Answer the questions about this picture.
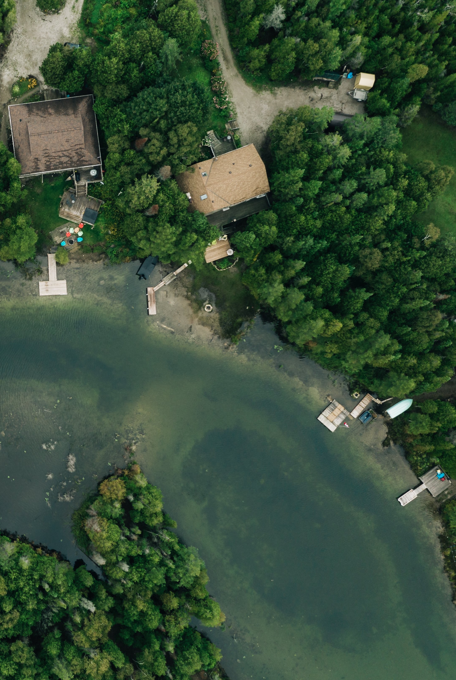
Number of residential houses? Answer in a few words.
2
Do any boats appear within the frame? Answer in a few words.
Yes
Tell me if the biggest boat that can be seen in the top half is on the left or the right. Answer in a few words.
left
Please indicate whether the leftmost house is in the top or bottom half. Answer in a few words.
top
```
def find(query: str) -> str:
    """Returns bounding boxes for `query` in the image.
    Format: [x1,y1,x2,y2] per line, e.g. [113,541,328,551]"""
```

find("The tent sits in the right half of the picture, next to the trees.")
[354,73,375,91]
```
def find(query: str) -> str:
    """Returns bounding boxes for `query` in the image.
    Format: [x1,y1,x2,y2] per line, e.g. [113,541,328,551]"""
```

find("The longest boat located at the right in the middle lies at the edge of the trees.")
[384,399,412,418]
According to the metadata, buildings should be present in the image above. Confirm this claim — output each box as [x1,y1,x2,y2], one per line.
[174,130,273,234]
[8,90,104,226]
